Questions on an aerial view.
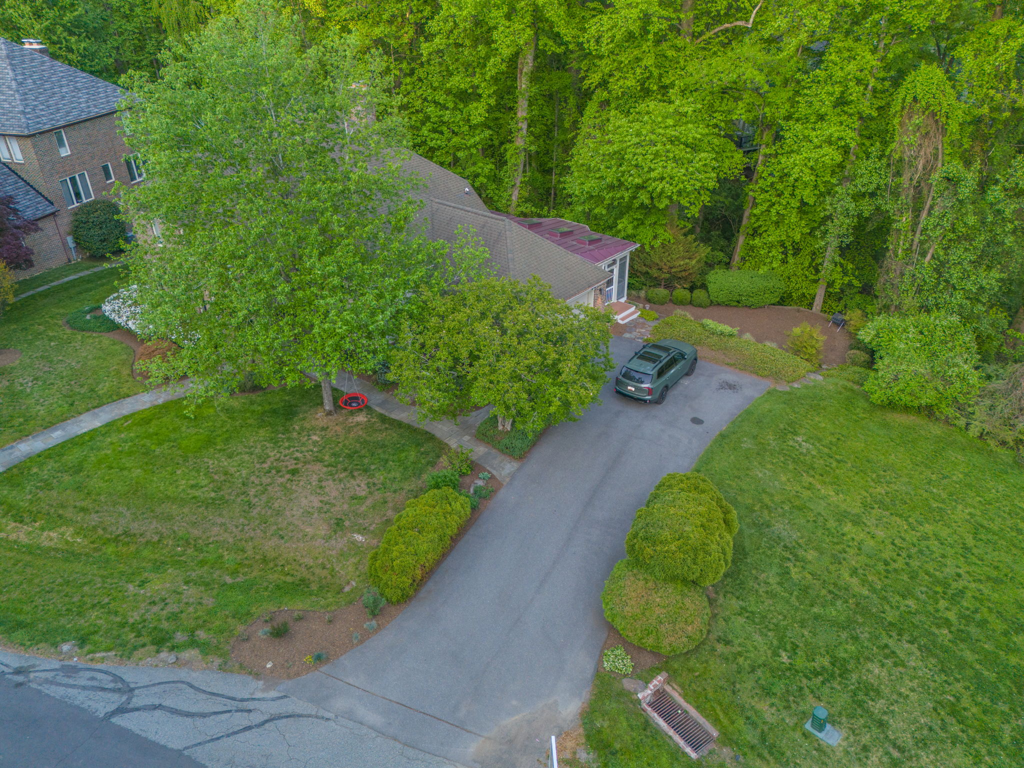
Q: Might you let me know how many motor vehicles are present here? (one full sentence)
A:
I count just 1 motor vehicle.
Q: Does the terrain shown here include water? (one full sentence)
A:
No, water can't be seen anywhere here.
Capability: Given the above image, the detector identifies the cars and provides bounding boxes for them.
[614,339,701,406]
